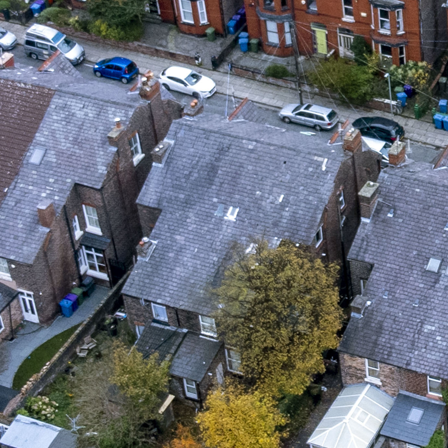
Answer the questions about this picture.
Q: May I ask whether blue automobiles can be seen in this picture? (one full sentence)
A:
Yes, you can see a blue automobile in this photo.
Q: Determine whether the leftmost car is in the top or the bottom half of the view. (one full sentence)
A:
Seen from above, the leftmost car lies in the top half of the view.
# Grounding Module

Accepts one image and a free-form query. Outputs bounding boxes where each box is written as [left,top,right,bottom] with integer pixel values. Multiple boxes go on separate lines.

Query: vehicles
[154,65,216,99]
[355,118,415,149]
[92,55,141,83]
[275,100,339,133]
[0,23,21,50]
[26,22,94,69]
